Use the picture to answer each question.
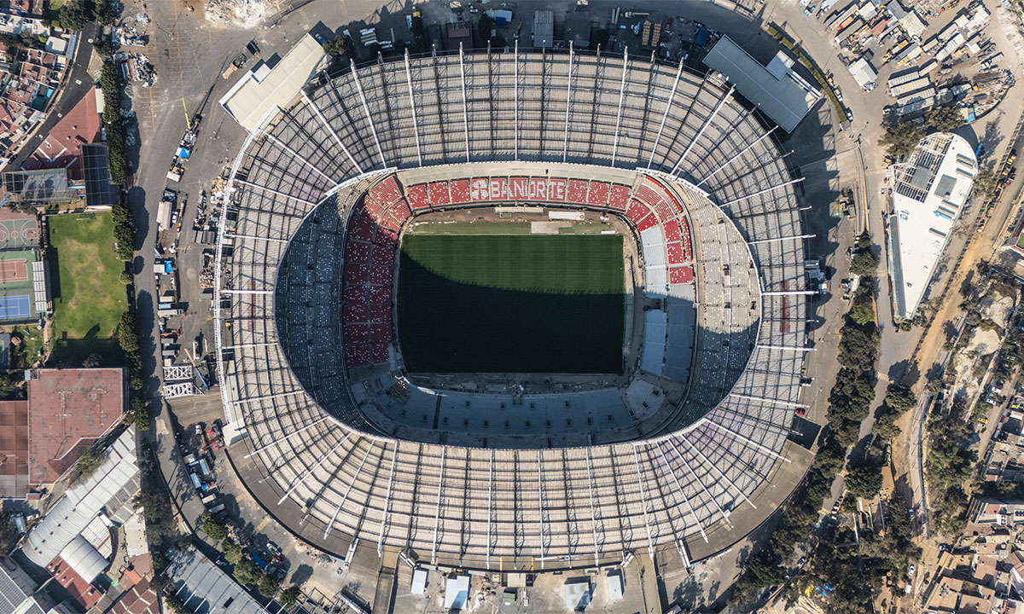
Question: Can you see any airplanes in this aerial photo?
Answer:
No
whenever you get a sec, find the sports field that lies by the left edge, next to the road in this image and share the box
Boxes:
[47,212,130,367]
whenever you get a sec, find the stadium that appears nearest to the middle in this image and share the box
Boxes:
[218,38,819,571]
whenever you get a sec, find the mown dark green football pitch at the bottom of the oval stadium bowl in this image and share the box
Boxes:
[399,222,625,375]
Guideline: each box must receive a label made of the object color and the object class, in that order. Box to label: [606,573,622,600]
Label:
white tent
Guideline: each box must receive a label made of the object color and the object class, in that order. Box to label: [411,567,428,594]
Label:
white tent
